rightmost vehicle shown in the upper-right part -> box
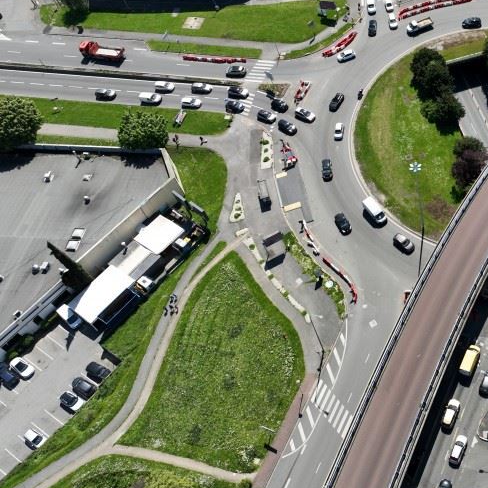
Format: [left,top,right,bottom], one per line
[462,17,482,29]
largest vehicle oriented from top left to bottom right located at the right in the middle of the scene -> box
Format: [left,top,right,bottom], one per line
[360,196,388,225]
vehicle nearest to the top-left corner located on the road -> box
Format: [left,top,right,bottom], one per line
[81,41,122,61]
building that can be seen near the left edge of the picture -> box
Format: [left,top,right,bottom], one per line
[0,152,186,363]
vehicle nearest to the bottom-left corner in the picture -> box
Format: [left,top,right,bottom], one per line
[20,425,51,452]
